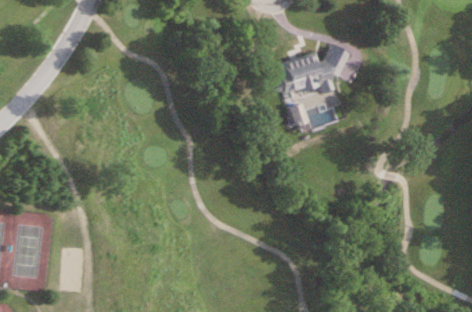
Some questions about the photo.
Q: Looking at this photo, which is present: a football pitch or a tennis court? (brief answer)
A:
tennis court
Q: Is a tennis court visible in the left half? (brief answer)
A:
Yes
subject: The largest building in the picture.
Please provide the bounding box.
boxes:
[281,44,354,101]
